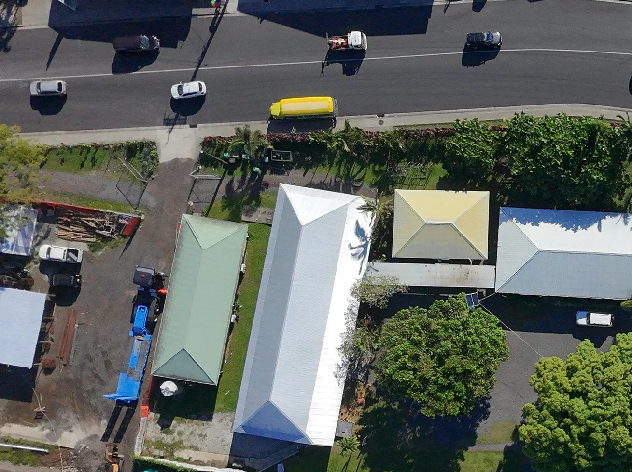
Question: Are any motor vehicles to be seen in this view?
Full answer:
Yes, the image includes a motor vehicle.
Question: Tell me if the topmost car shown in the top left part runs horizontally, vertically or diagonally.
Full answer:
In this picture, the topmost car shown in the top left part is oriented horizontally.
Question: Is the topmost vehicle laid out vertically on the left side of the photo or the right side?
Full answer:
It is on the left.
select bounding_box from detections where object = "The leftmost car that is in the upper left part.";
[32,80,68,98]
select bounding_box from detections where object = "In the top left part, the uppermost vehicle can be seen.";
[113,34,162,54]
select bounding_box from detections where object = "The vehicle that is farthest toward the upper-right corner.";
[467,31,503,49]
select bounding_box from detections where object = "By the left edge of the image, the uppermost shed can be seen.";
[0,201,48,255]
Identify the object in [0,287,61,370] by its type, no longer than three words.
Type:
shed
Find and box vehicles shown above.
[46,272,91,290]
[172,81,208,101]
[467,31,503,49]
[270,97,343,122]
[98,266,160,400]
[324,31,368,52]
[40,246,84,265]
[113,34,162,54]
[32,80,68,98]
[577,311,613,328]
